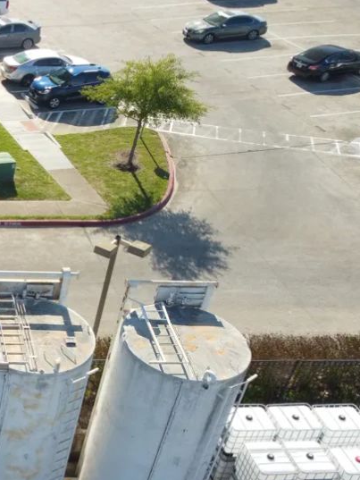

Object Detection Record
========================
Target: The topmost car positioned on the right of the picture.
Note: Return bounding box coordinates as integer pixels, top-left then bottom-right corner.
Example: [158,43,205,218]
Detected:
[185,8,271,41]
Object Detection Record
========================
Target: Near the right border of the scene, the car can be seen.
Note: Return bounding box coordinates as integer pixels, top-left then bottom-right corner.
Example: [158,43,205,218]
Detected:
[292,42,360,77]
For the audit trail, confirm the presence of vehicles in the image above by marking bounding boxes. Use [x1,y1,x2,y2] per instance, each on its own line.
[0,45,83,81]
[292,42,360,77]
[0,18,46,47]
[185,8,271,41]
[30,57,122,99]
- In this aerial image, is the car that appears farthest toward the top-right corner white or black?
black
